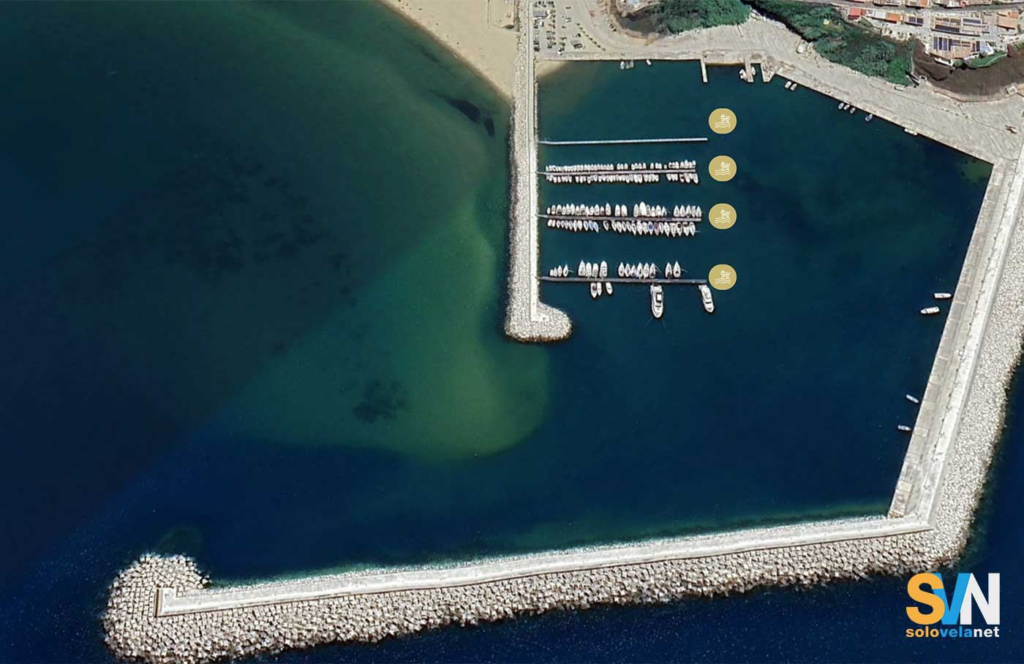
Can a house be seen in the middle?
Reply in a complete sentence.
No, no house can be made out in the middle.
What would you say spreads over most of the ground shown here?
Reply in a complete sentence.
The scene is dominated by water.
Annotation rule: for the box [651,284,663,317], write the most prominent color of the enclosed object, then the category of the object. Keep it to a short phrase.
white boat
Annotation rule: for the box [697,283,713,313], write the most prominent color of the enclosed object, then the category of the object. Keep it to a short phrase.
white boat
